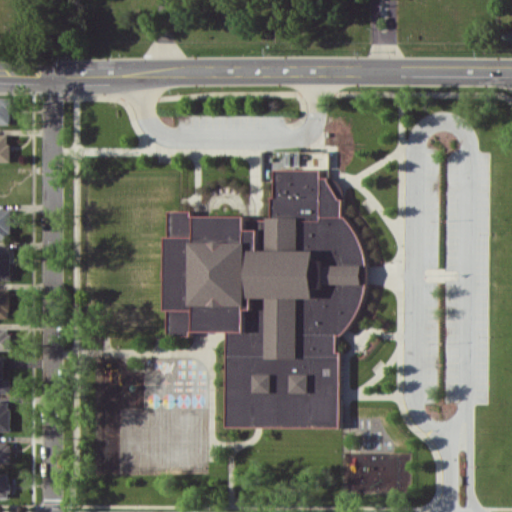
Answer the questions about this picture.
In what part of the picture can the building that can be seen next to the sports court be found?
center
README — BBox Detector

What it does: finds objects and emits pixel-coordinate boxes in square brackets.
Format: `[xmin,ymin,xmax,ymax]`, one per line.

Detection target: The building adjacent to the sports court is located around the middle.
[162,171,366,428]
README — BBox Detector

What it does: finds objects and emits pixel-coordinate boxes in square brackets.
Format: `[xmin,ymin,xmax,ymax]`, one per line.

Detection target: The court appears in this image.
[120,358,208,476]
